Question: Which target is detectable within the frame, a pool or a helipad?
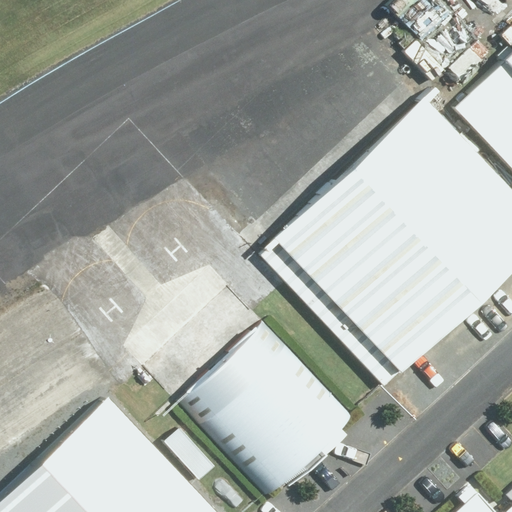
helipad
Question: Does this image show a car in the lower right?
Yes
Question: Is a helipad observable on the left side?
Yes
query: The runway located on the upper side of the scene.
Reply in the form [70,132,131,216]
[0,0,288,156]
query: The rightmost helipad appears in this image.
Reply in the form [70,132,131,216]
[98,180,286,318]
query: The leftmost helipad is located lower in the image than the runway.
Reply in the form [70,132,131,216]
[30,226,151,387]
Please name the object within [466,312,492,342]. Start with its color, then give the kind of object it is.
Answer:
white car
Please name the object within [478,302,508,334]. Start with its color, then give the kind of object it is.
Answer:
gray car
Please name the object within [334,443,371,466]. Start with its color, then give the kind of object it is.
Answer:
white car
